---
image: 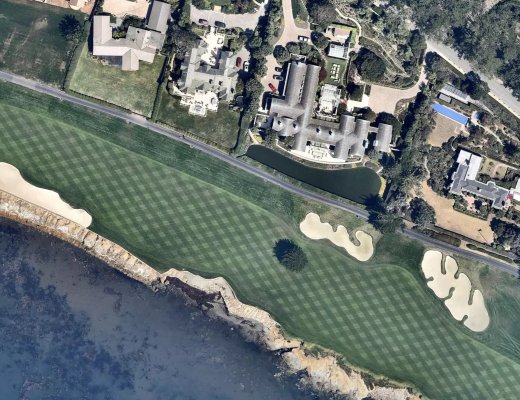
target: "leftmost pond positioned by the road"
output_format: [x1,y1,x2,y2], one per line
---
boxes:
[247,144,381,203]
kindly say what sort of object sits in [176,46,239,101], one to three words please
house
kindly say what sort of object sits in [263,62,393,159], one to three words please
house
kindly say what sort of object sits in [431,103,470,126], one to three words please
swimming pool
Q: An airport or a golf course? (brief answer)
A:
golf course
